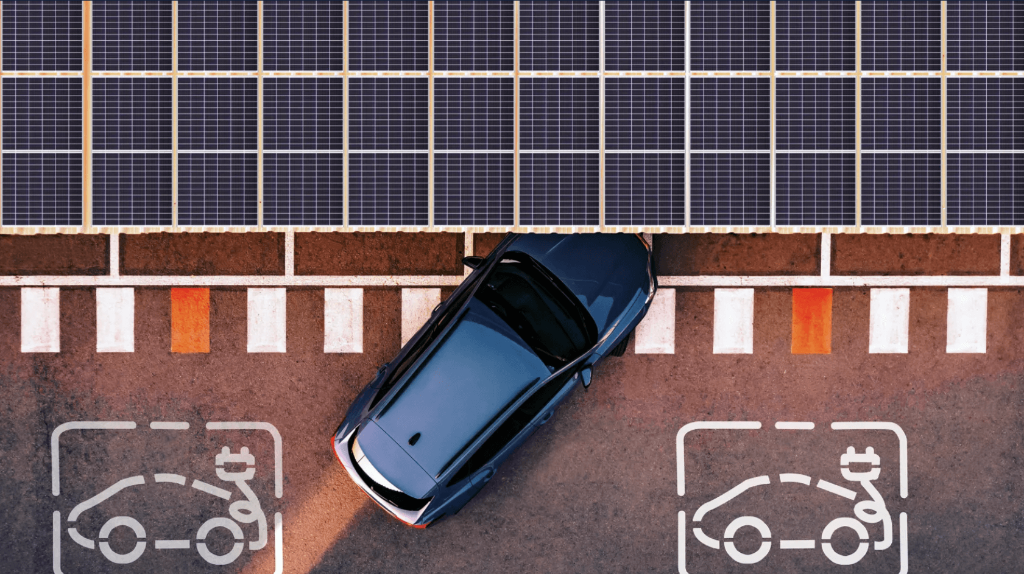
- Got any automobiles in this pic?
Yes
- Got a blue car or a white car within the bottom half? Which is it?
blue car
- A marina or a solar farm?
solar farm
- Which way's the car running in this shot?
at an angle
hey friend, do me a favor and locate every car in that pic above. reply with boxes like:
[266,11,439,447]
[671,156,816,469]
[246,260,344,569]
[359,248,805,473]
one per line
[334,232,660,525]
